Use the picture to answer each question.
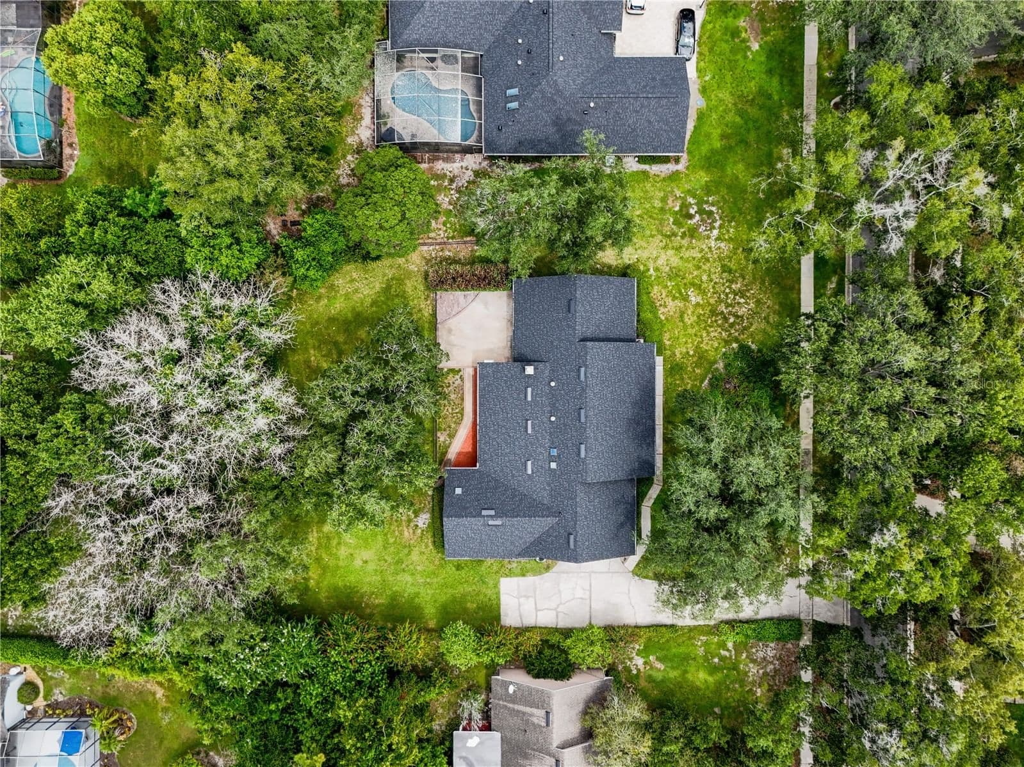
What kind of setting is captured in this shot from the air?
residential area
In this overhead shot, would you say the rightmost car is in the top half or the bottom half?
top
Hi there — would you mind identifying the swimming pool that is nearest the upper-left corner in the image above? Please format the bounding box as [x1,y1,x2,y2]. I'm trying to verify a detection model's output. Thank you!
[0,56,53,155]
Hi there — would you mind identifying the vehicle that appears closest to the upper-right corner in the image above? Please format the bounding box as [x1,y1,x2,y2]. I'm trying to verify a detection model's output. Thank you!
[675,10,697,61]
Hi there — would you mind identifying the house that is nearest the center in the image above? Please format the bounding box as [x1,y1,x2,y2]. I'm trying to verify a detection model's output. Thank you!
[442,275,657,563]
